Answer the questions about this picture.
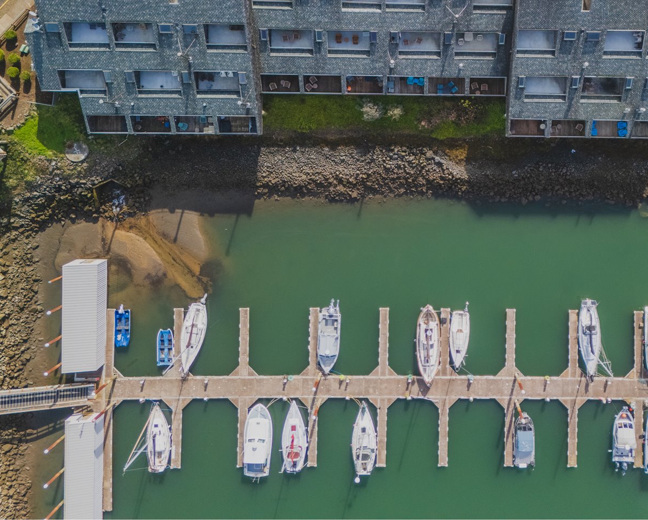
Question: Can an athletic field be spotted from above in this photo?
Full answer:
No, the scene contains no athletic field.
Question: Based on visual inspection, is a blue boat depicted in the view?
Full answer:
Yes, I can see a blue boat in this picture.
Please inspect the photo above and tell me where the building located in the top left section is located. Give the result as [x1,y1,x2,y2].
[25,0,271,135]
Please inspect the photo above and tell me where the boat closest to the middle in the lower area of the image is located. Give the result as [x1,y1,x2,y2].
[317,298,342,378]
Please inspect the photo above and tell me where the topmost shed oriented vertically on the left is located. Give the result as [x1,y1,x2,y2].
[62,262,111,373]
